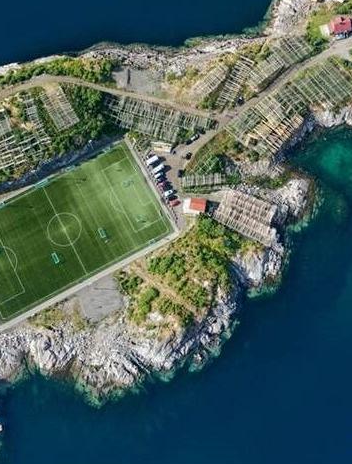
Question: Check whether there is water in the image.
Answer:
Yes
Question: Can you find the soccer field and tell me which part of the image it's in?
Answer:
left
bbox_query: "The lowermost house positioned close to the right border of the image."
[321,17,352,37]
